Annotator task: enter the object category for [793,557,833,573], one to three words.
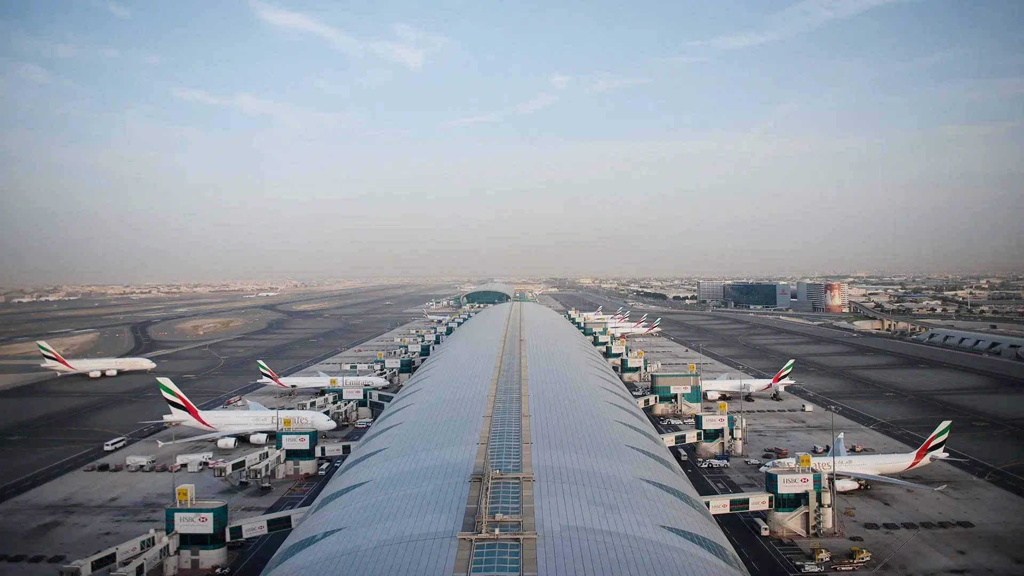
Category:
work vehicle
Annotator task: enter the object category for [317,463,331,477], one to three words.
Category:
vehicle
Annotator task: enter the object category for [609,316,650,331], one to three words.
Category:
airplane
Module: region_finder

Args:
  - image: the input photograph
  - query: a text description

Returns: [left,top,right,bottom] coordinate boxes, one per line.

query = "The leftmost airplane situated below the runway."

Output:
[29,338,159,380]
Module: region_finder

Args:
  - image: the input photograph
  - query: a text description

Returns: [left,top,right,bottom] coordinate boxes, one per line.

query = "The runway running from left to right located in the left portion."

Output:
[0,286,446,340]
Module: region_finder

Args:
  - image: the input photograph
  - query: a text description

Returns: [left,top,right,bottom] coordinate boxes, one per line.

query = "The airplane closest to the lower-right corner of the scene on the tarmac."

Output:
[816,433,965,498]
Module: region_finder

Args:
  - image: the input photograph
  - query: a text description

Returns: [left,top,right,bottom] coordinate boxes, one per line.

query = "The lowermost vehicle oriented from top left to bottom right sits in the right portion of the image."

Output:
[751,518,773,540]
